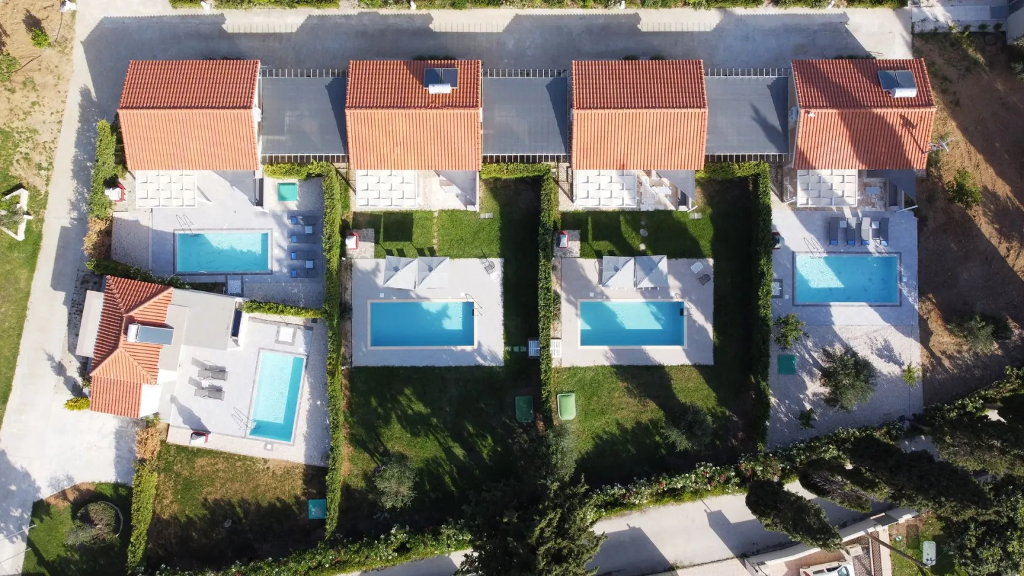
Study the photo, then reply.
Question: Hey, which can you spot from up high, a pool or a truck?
pool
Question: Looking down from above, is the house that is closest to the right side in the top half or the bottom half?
top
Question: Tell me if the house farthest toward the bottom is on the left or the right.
left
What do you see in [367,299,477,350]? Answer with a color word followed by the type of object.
blue swimming pool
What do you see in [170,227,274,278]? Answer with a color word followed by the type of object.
blue swimming pool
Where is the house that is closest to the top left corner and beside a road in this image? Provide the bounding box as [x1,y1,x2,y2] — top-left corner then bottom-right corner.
[116,59,273,171]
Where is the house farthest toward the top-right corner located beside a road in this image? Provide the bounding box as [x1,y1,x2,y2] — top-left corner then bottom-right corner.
[780,59,938,171]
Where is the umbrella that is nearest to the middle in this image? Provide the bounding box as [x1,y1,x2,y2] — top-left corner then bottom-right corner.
[416,256,450,290]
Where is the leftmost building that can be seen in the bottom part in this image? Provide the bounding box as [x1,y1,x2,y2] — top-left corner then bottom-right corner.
[76,275,261,418]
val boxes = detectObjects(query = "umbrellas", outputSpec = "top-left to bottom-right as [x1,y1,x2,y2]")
[635,254,669,288]
[416,256,450,290]
[601,255,635,289]
[383,255,417,290]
